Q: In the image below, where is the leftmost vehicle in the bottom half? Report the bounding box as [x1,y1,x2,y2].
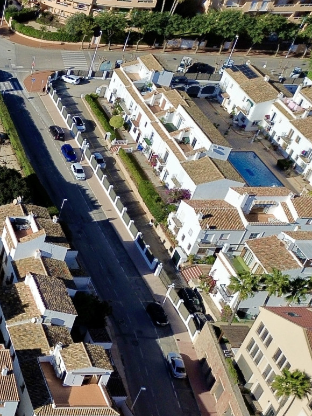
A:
[146,298,172,323]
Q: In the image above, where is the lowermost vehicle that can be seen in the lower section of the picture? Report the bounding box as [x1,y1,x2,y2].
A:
[166,348,189,377]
